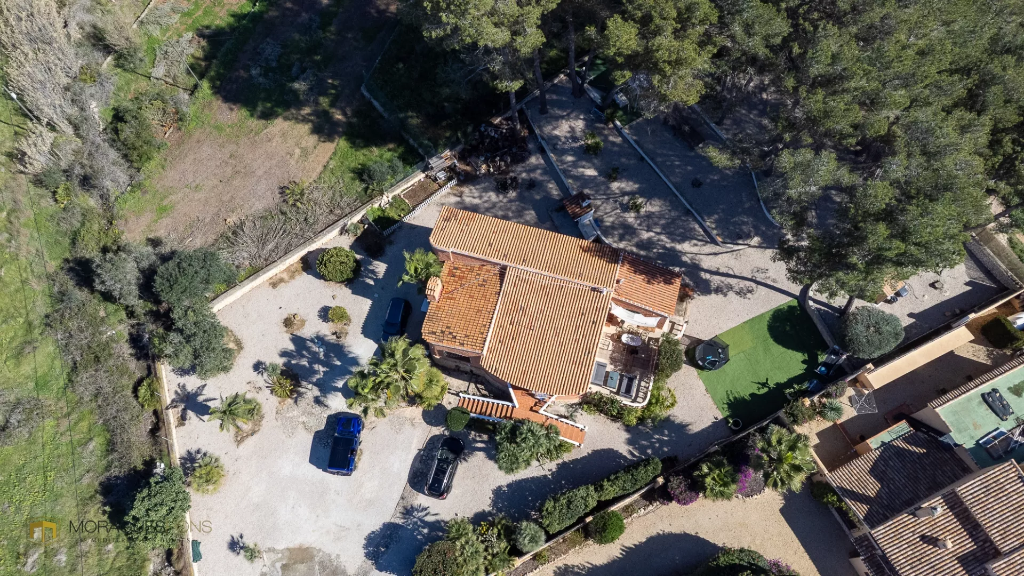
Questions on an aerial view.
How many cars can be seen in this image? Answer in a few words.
three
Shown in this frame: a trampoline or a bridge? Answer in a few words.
trampoline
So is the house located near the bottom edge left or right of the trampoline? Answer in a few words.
right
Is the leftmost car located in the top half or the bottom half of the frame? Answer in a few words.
bottom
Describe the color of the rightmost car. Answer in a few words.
black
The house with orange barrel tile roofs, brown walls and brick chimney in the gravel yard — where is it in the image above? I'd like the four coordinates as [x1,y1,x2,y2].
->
[421,207,683,411]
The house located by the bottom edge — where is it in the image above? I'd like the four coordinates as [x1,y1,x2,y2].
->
[816,353,1024,576]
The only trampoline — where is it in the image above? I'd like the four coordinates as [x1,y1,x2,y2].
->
[687,333,733,379]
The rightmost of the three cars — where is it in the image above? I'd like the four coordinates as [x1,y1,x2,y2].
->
[423,436,465,506]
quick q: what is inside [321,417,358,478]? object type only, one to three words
car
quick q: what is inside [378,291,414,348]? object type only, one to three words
car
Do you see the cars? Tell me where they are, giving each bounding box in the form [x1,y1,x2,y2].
[321,417,358,478]
[378,291,414,348]
[423,436,465,506]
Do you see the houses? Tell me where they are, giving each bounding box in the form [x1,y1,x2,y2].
[421,207,683,411]
[816,353,1024,576]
